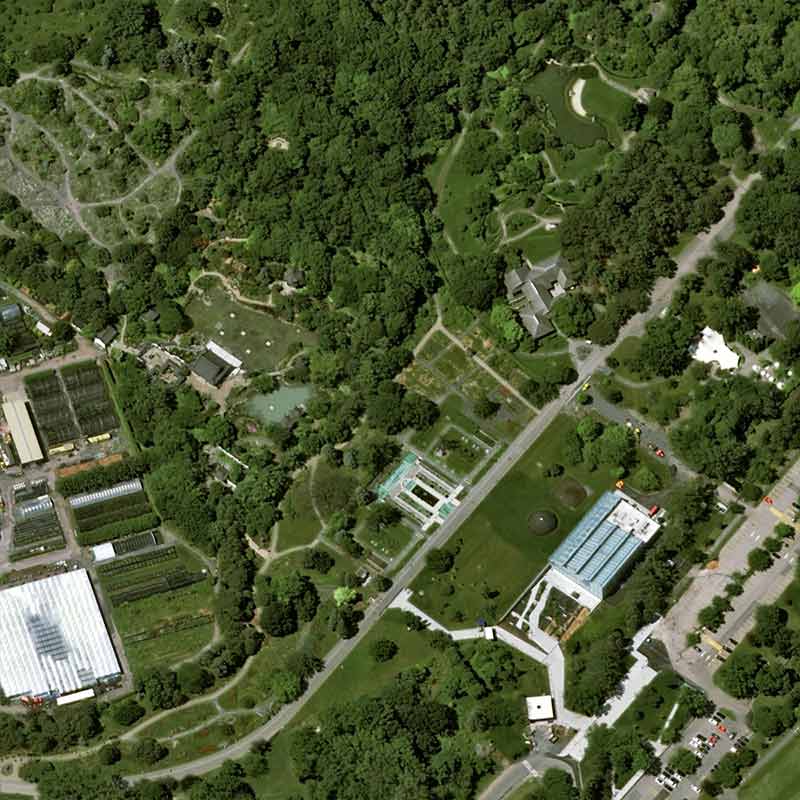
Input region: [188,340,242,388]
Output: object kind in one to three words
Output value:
building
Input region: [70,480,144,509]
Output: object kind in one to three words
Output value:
greenhouse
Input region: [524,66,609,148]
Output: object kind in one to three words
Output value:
pond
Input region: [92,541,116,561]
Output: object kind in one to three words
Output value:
shed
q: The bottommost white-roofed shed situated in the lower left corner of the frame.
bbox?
[56,688,96,705]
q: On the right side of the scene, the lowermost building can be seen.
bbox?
[526,695,553,720]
